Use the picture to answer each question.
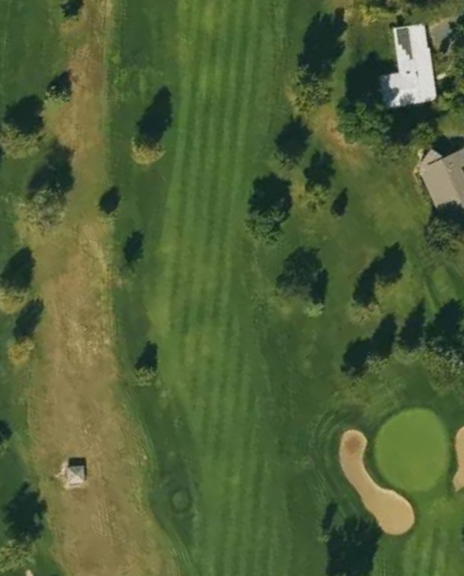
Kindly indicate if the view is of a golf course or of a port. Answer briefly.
golf course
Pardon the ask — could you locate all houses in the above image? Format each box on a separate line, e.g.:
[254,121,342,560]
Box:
[417,147,464,224]
[382,23,436,108]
